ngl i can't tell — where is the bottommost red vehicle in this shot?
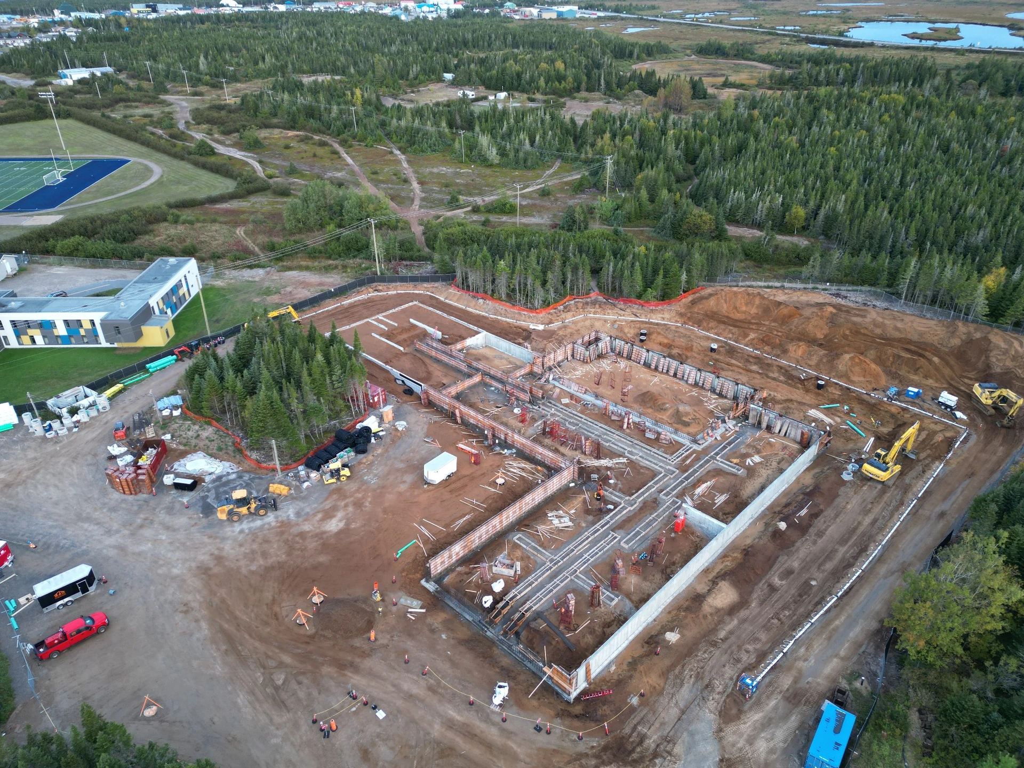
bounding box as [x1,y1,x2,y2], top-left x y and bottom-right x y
[28,613,110,666]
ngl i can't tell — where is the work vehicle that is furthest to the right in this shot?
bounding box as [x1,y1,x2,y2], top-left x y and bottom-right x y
[968,388,1024,432]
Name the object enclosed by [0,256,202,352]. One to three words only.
building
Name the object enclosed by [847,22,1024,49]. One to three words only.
pond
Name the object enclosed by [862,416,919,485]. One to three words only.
work vehicle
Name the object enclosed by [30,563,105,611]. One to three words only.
trailer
